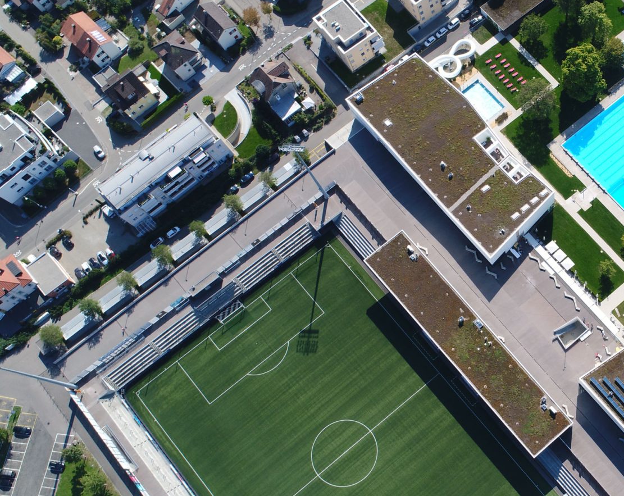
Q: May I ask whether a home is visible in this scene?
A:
Yes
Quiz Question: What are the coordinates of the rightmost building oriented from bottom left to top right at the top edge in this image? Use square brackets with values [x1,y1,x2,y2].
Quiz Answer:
[408,12,451,45]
